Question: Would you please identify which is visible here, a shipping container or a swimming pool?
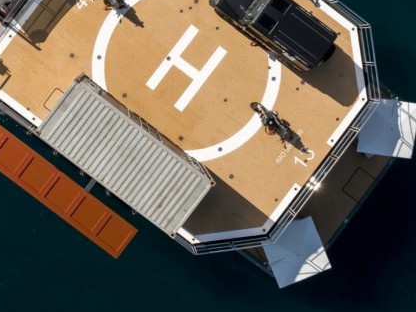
shipping container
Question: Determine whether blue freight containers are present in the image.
No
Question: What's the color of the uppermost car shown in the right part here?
black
